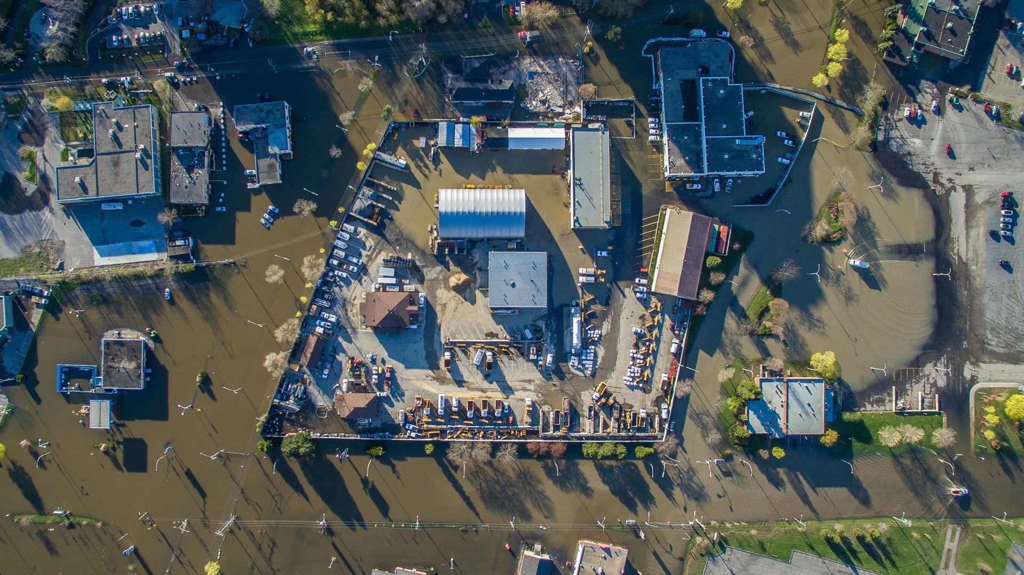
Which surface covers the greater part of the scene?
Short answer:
water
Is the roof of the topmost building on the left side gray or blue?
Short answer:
blue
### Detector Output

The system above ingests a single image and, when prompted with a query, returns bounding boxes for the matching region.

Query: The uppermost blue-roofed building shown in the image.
[213,0,248,31]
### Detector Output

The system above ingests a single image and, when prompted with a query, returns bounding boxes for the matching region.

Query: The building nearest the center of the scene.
[489,252,547,308]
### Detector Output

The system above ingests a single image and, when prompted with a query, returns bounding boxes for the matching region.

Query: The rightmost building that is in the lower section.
[743,376,833,436]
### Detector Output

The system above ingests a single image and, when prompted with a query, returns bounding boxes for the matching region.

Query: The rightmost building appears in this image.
[885,0,980,66]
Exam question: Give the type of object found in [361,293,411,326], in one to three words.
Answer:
house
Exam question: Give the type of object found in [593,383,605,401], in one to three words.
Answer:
vehicle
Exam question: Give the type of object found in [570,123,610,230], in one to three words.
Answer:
building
